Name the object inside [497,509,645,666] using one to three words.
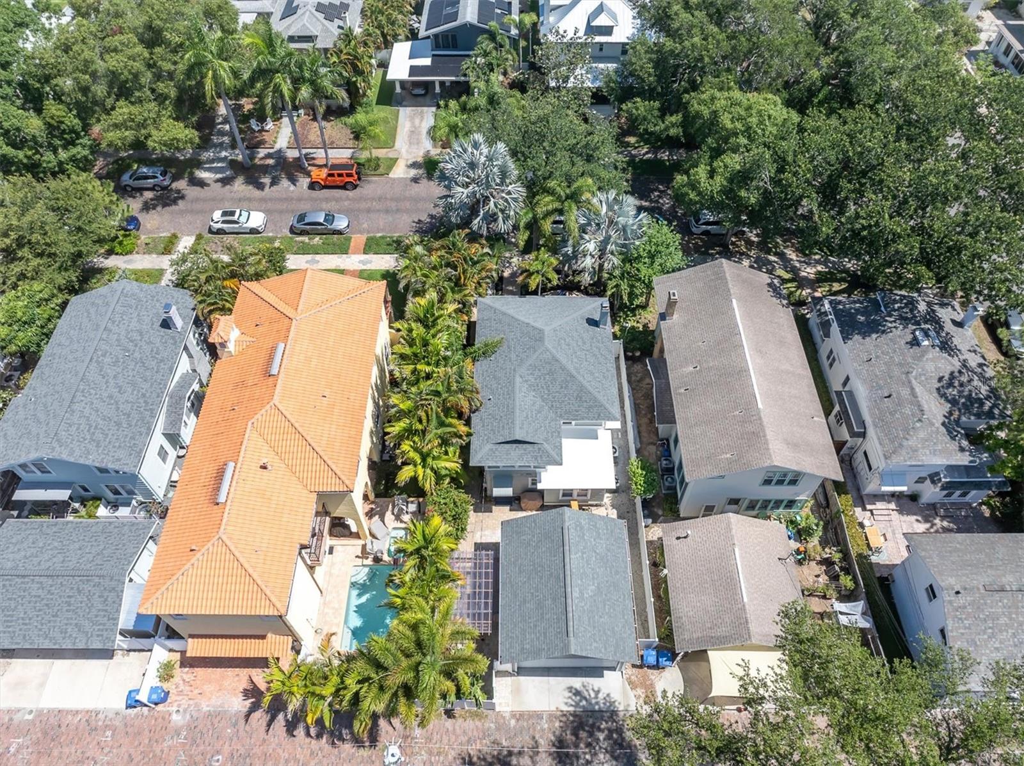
building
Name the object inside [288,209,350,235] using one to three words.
car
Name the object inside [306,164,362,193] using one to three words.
car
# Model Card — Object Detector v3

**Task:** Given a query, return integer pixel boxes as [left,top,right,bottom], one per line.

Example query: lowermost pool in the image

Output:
[335,559,409,655]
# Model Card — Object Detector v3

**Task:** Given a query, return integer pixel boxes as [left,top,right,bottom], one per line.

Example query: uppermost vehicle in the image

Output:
[407,80,430,98]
